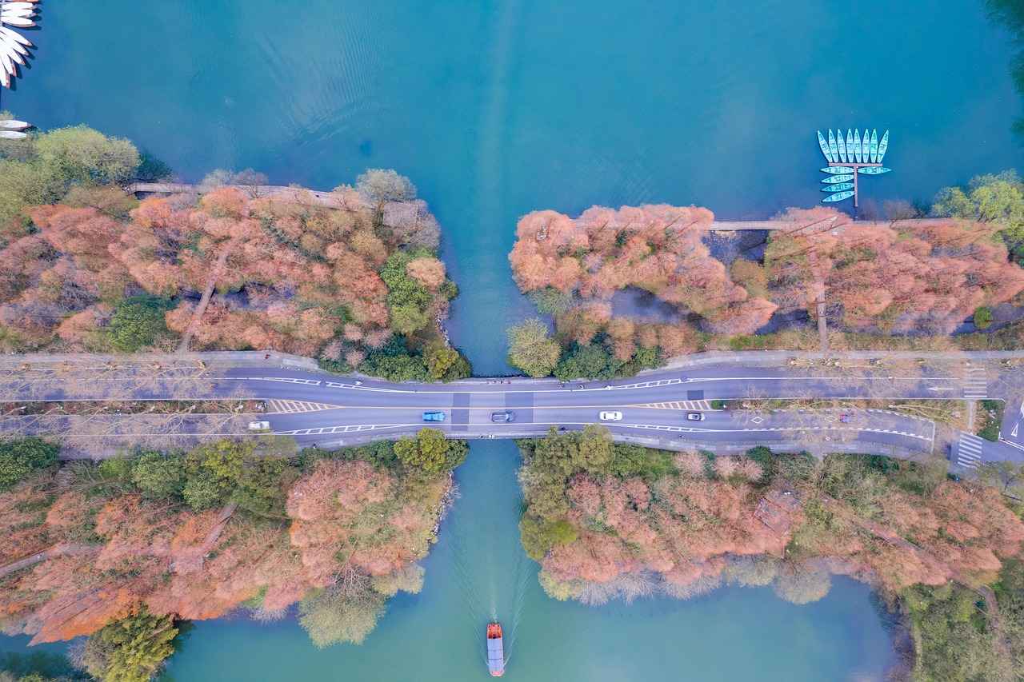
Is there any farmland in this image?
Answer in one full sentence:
No, the scene doesn't show any farmland.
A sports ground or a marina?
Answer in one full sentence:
The picture captures a marina.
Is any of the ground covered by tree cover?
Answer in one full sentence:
Yes, there is tree cover in the image.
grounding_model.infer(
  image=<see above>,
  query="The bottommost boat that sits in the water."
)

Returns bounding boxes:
[487,621,504,681]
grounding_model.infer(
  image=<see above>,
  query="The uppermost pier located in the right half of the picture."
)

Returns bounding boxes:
[828,162,883,219]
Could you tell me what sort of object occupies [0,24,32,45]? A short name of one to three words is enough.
boat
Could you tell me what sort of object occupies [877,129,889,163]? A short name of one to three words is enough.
boat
